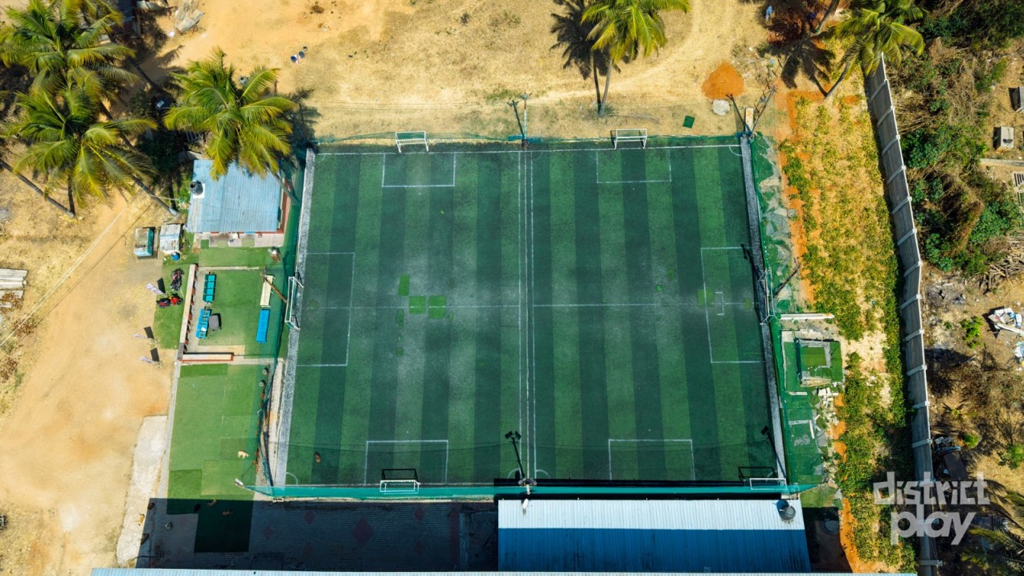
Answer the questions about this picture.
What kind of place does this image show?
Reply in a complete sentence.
It's a sports ground.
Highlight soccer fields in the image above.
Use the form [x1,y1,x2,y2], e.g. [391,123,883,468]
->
[285,138,775,489]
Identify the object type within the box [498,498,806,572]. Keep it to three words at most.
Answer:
shed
